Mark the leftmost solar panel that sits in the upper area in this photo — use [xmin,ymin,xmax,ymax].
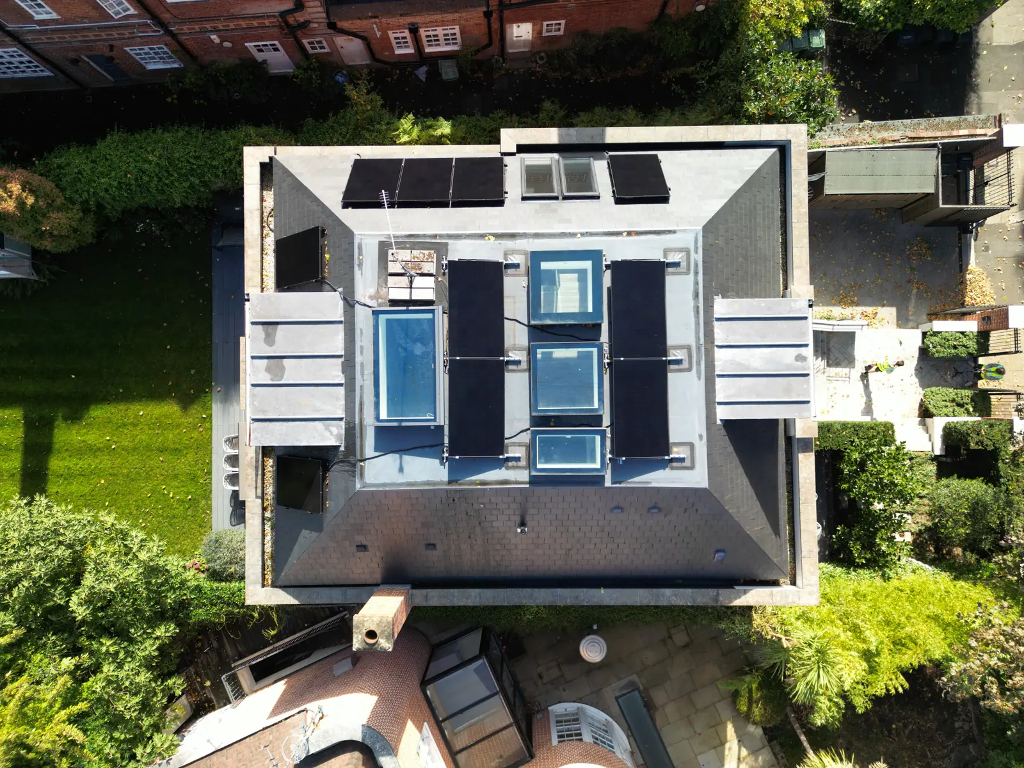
[275,227,327,287]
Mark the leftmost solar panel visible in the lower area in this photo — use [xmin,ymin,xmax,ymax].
[276,456,327,513]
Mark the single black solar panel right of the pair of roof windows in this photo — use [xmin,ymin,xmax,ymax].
[608,154,669,199]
